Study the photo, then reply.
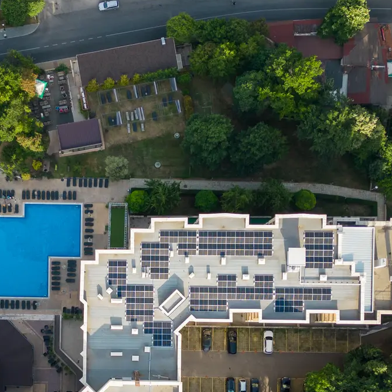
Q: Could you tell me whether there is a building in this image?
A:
Yes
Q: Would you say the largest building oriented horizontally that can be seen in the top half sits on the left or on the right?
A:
left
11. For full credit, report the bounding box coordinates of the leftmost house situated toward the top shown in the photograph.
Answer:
[57,120,105,157]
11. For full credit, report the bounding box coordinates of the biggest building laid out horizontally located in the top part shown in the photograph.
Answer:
[76,33,179,90]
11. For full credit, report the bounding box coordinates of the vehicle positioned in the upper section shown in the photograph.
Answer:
[98,0,120,12]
